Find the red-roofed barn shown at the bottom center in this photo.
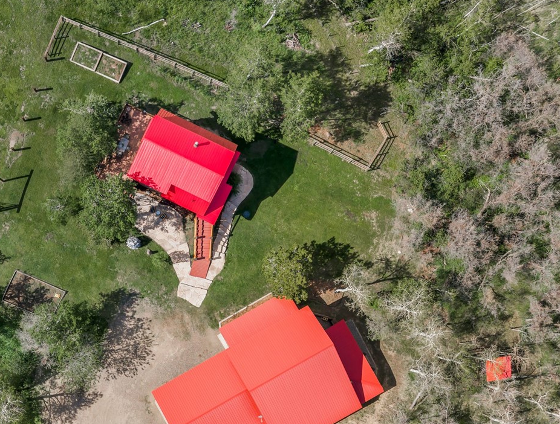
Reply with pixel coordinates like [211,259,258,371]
[152,294,384,424]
